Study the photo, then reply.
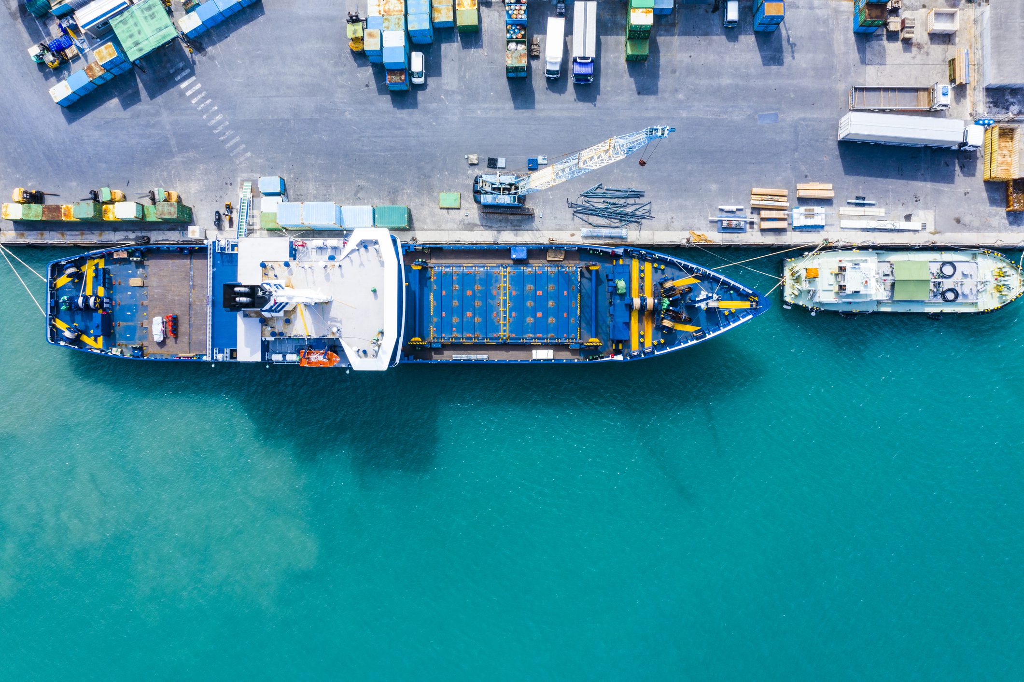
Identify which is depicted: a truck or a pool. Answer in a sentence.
The image shows a truck.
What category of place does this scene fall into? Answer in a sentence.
It's a port.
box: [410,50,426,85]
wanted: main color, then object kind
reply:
white vehicle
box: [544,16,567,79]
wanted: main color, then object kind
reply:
white truck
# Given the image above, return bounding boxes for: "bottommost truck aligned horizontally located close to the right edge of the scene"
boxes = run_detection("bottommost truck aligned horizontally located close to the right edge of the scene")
[840,110,989,149]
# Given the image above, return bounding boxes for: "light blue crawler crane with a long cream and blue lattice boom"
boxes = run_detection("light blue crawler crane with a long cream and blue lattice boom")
[473,123,674,217]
